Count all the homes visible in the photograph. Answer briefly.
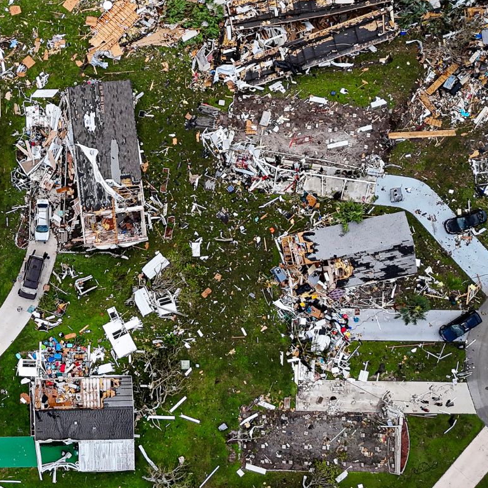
3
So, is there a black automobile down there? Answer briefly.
Yes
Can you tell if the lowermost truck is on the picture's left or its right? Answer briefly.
right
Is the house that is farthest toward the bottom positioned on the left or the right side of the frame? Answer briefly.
left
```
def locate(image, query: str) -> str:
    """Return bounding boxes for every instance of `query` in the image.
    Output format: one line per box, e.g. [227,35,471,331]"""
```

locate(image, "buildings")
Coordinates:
[33,371,134,481]
[68,81,148,246]
[270,211,418,292]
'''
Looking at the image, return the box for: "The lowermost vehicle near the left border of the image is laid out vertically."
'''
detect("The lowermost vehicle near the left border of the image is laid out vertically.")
[19,254,44,300]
